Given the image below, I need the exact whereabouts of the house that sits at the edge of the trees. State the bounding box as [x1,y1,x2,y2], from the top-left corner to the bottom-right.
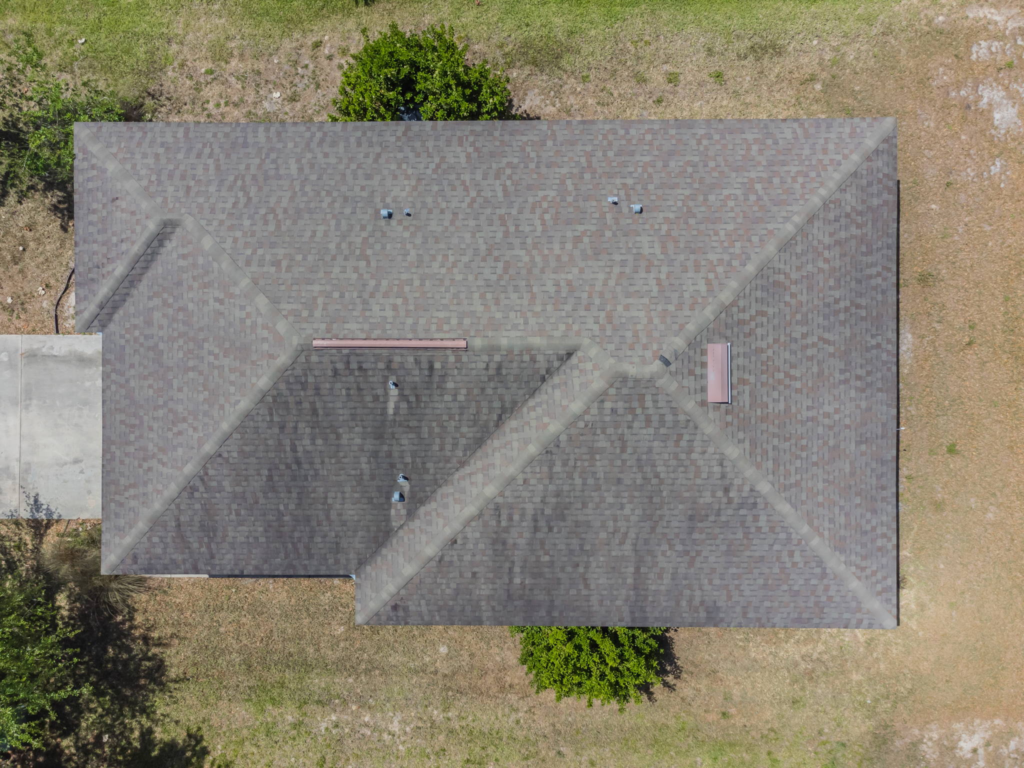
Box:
[73,116,905,627]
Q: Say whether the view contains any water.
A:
No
